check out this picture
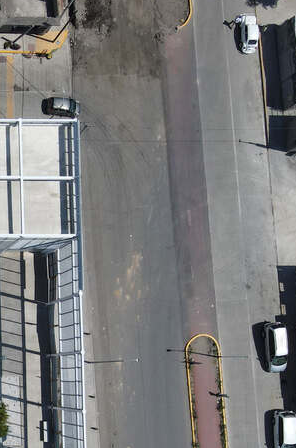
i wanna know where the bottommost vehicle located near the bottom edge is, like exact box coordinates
[266,411,296,448]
